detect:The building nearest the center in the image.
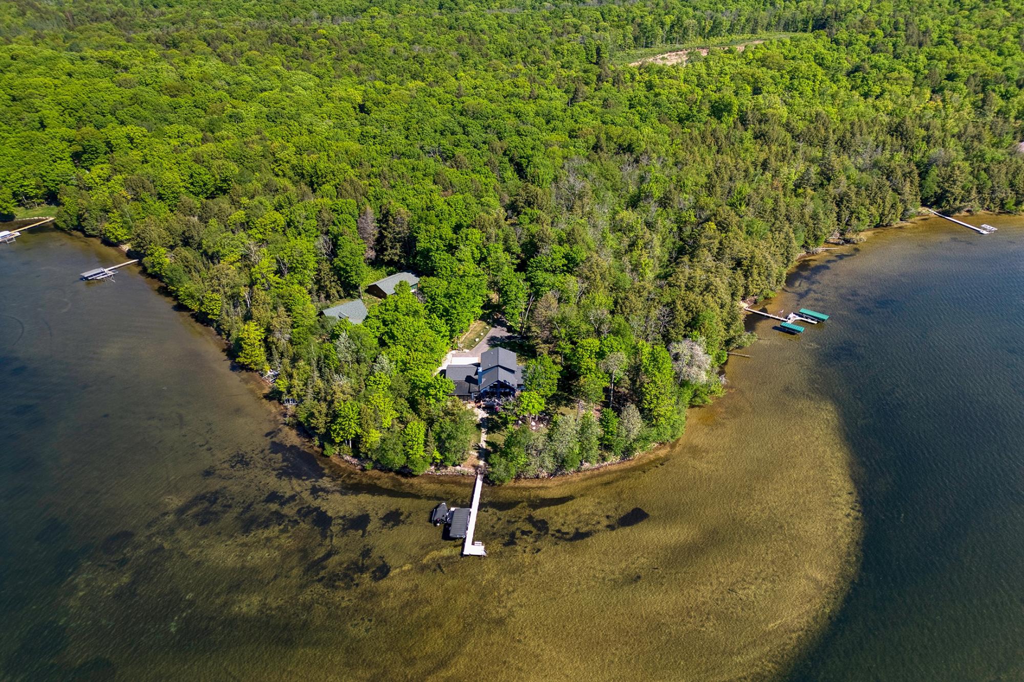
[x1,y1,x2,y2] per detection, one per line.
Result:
[446,346,530,403]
